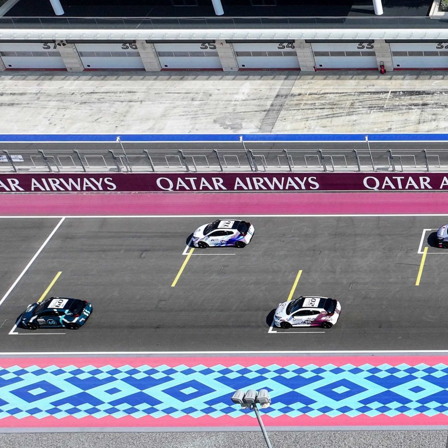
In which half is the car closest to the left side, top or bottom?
bottom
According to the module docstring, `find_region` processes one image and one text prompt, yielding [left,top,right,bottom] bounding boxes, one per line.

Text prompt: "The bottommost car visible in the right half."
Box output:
[272,296,341,330]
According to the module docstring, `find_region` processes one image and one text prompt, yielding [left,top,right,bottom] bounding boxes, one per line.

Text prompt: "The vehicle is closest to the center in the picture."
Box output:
[191,218,254,249]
